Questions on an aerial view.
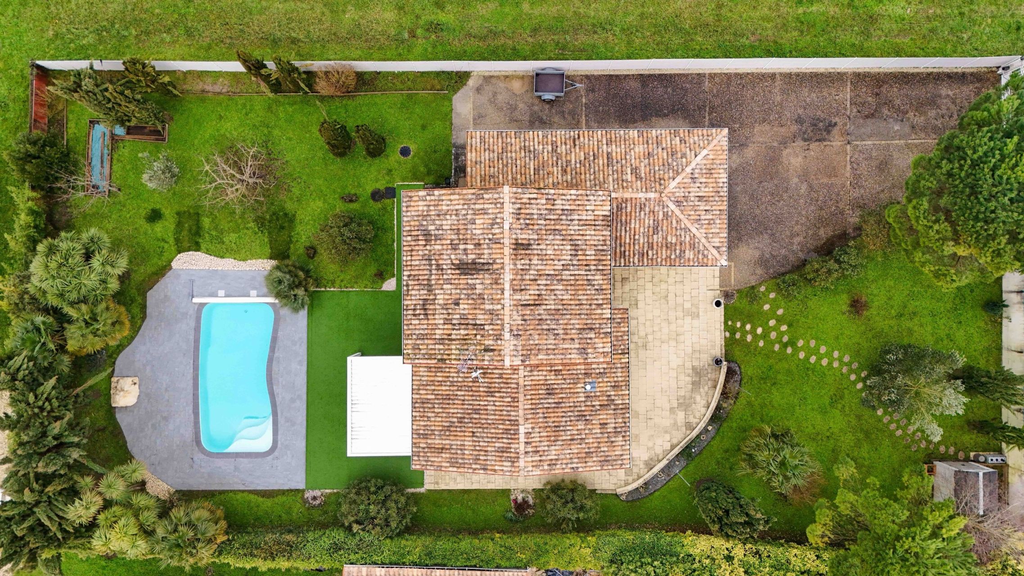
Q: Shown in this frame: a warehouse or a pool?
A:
pool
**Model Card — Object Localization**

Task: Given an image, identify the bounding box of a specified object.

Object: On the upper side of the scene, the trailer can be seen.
[534,67,584,102]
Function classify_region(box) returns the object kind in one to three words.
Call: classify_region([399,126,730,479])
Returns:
house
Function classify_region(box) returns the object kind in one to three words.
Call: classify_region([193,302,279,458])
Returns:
swimming pool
